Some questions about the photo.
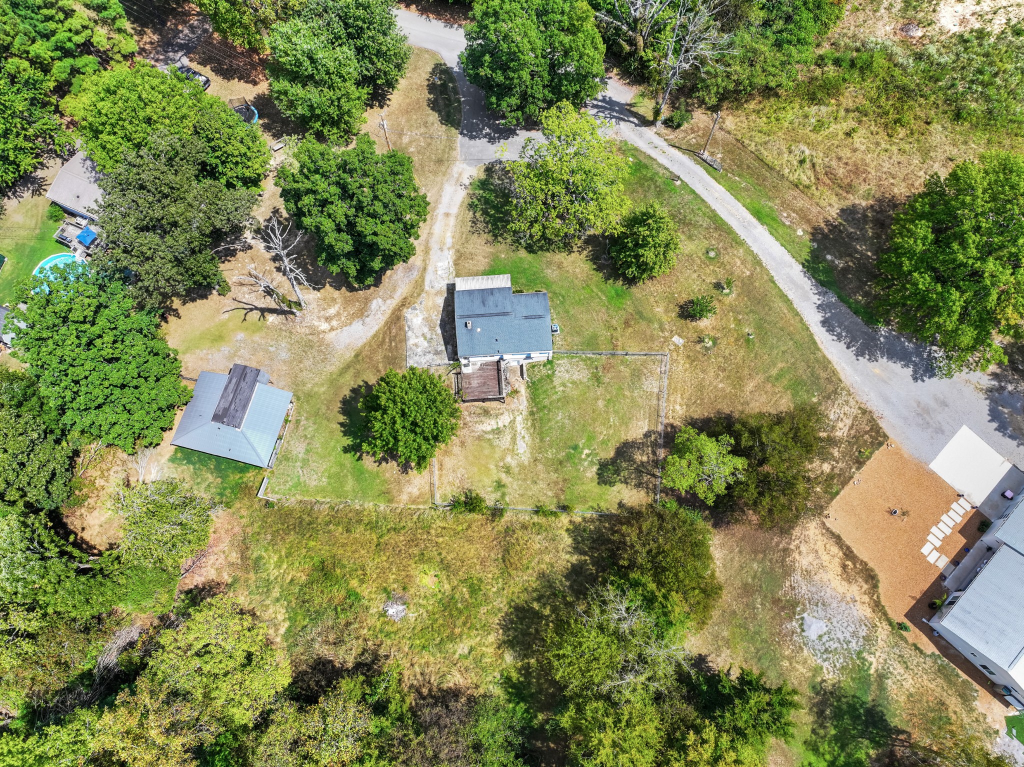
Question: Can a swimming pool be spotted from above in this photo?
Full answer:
Yes, the photo shows a swimming pool.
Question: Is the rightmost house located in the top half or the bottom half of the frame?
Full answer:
The bottom half of the photo is where the rightmost house is.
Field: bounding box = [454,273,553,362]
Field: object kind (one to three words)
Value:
house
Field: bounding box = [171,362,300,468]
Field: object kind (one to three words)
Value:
barn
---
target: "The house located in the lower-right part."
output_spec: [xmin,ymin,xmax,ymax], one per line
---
[920,489,1024,707]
